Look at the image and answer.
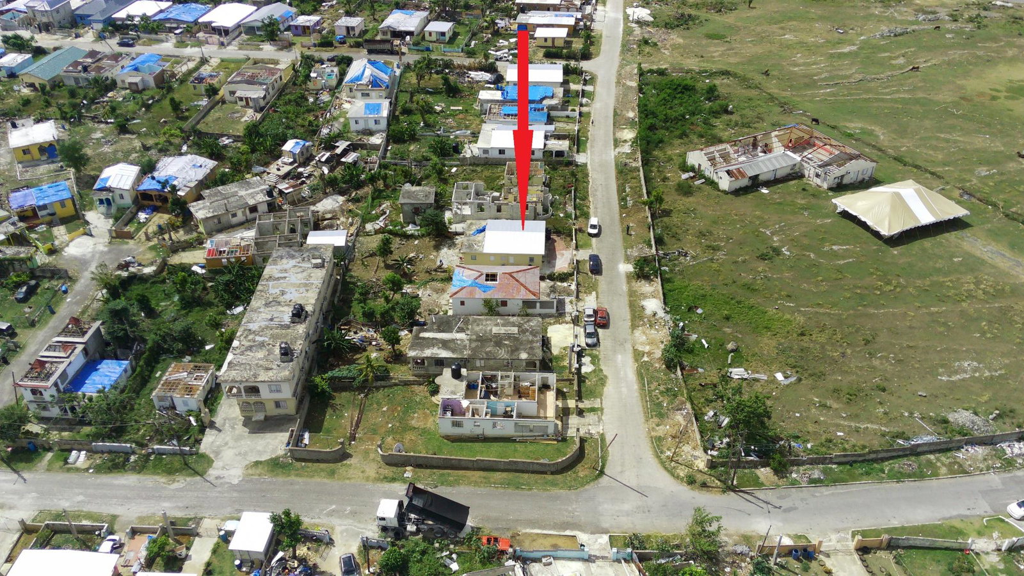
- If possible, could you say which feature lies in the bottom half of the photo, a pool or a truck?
truck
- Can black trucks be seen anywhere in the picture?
Yes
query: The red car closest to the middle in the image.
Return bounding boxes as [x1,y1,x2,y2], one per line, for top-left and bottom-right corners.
[595,309,610,329]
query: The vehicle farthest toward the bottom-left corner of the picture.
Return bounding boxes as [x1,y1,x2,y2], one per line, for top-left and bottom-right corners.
[96,531,129,548]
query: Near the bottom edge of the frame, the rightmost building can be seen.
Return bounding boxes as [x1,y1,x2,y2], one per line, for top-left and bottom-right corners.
[228,510,278,570]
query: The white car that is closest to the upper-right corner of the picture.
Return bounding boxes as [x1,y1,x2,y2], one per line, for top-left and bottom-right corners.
[588,216,600,235]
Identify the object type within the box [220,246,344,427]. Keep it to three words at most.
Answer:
building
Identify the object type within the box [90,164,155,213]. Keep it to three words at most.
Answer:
house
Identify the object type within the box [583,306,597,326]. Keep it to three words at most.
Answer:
car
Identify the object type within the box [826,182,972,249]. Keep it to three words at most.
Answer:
tent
